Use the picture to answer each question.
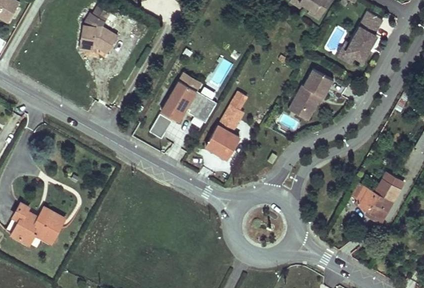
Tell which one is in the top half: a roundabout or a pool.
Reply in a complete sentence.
Visible in the top half is a pool.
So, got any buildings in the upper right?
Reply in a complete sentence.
Yes, a building can be seen in the upper right.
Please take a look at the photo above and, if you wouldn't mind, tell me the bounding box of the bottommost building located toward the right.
[353,172,406,224]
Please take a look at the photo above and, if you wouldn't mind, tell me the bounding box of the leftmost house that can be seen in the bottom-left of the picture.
[7,202,66,248]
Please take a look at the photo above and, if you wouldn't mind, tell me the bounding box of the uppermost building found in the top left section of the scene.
[0,0,22,24]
